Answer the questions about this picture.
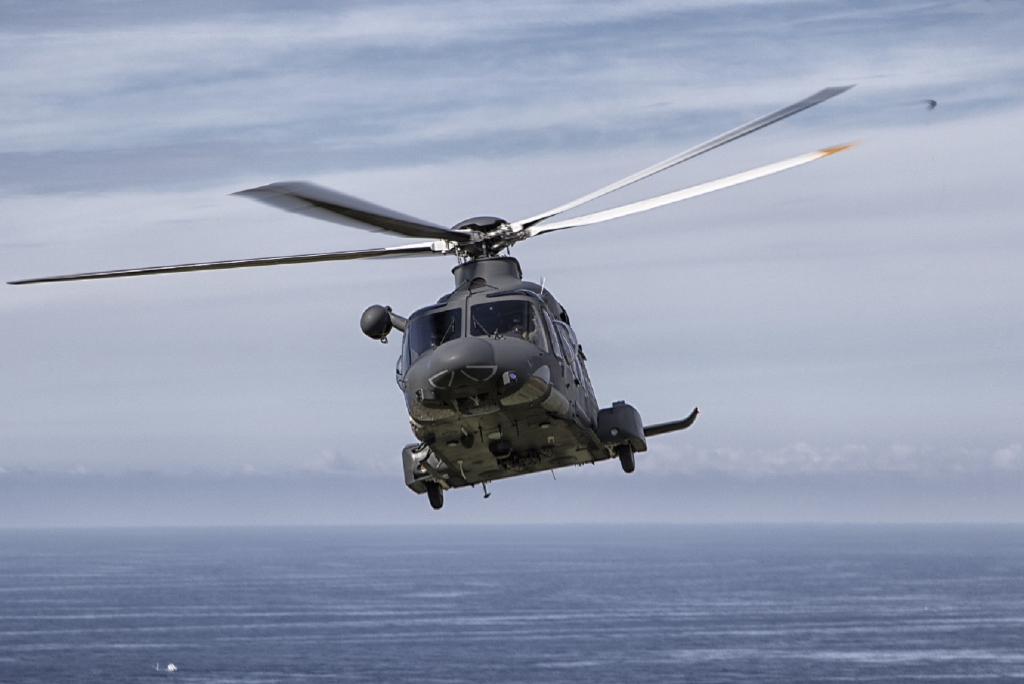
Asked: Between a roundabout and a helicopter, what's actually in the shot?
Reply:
helicopter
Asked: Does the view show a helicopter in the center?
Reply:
Yes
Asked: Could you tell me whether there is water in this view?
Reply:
Yes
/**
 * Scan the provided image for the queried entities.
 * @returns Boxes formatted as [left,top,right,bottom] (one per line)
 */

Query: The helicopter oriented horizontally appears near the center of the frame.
[13,91,871,509]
